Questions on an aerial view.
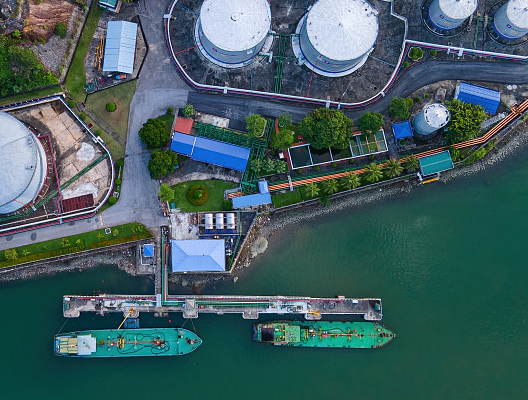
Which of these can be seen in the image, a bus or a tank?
tank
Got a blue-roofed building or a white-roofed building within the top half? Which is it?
blue-roofed building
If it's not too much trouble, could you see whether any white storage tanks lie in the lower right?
No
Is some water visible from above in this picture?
Yes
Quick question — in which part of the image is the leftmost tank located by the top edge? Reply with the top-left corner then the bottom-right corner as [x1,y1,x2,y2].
[195,0,272,66]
